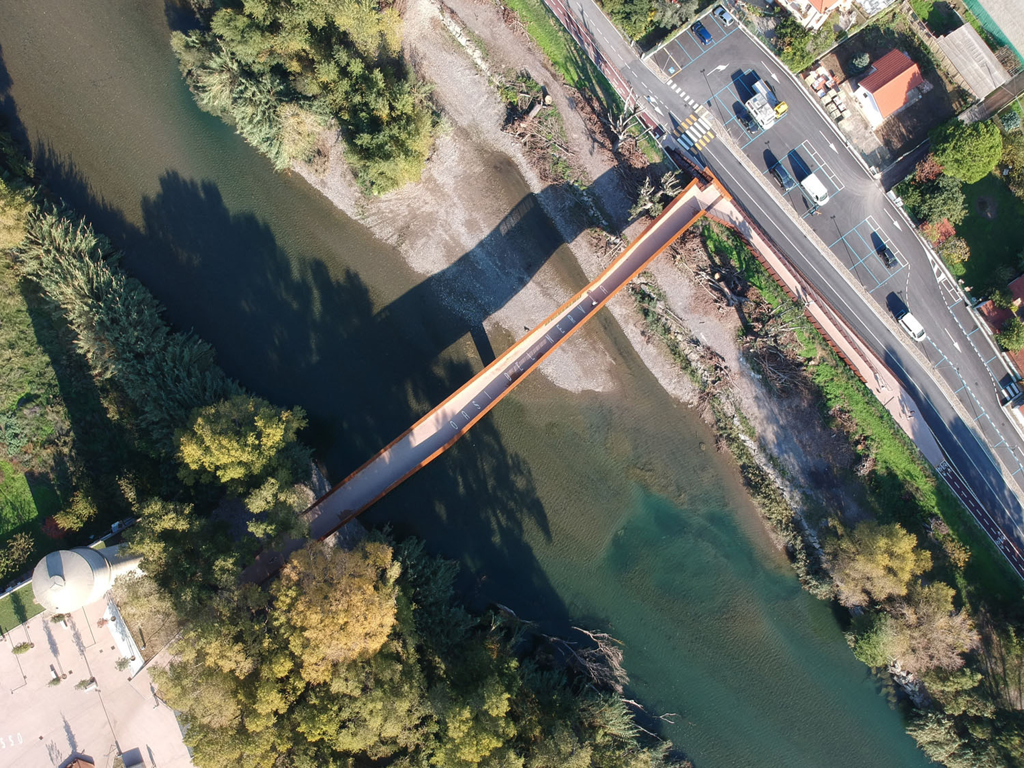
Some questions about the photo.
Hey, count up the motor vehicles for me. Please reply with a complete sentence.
In total, 9 motor vehicles can be seen.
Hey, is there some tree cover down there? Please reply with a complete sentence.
Yes, tree cover can be seen from above here.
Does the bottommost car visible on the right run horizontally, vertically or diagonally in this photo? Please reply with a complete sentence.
From this overhead view, the bottommost car visible on the right appears to run diagonally.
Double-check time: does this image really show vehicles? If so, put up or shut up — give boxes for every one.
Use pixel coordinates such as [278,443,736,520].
[898,314,926,342]
[736,110,758,135]
[690,20,713,45]
[744,94,776,133]
[713,4,734,28]
[770,165,794,191]
[877,248,899,270]
[756,78,790,116]
[800,174,829,207]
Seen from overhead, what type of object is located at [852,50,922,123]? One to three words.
house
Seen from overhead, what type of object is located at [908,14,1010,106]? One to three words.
shed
